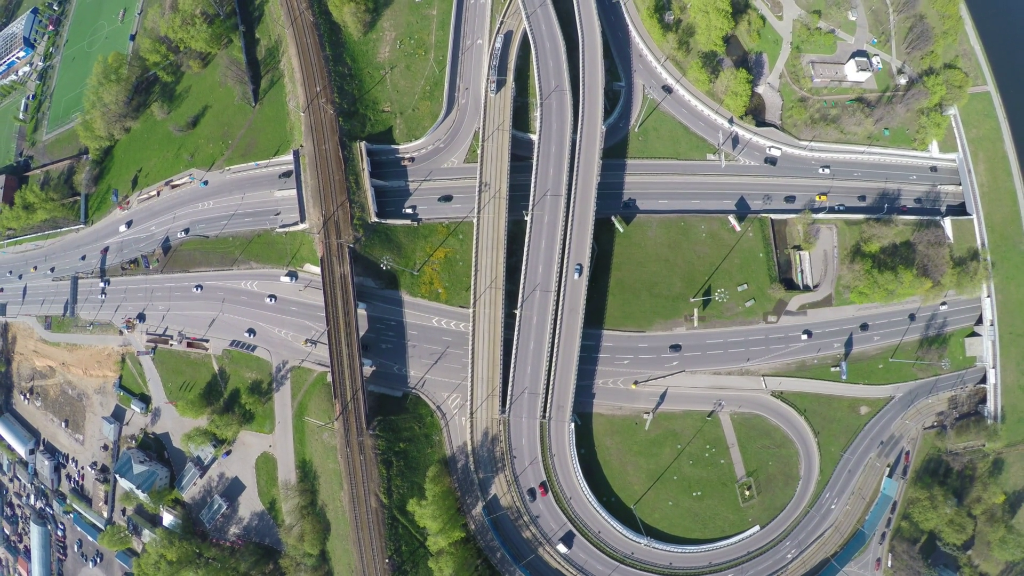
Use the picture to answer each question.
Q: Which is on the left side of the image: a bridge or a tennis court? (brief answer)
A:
bridge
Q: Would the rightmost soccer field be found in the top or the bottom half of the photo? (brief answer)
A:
top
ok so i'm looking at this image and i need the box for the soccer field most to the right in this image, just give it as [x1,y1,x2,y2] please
[47,0,134,133]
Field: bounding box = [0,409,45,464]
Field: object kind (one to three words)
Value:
hangar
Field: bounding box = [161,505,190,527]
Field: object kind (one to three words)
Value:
shed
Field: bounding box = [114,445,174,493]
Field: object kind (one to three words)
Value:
house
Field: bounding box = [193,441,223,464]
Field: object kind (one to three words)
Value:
building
